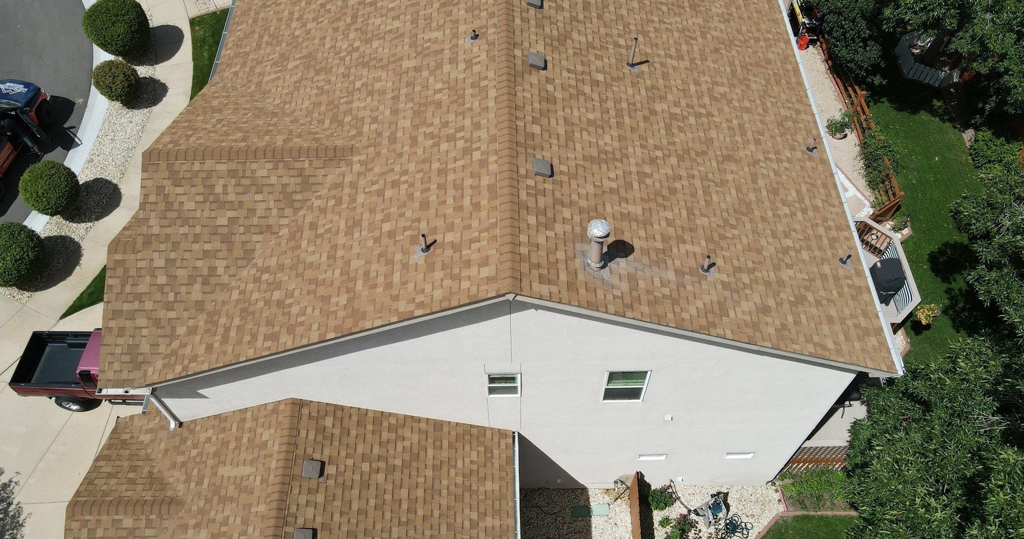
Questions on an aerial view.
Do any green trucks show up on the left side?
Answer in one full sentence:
No, on the left side there is no green truck.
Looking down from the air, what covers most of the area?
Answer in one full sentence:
For the most part, this view shows buildings.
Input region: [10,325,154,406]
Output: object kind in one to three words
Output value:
truck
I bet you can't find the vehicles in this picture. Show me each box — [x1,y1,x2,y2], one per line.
[10,325,154,406]
[0,89,57,183]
